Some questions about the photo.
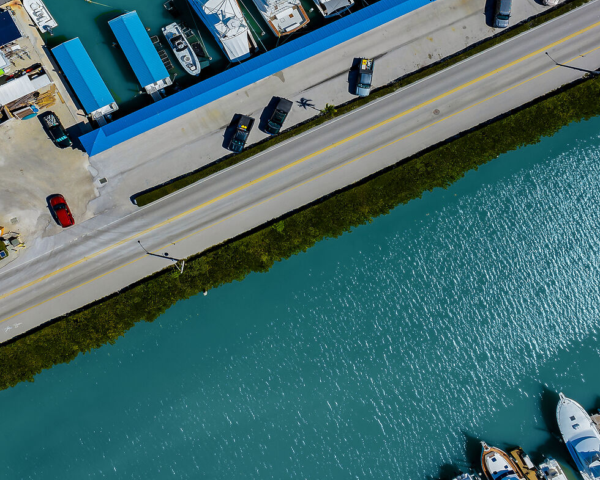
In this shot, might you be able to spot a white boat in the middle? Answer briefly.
No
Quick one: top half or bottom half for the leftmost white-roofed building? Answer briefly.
top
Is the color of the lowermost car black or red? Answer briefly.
red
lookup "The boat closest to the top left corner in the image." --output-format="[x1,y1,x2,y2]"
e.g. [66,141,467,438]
[23,0,60,36]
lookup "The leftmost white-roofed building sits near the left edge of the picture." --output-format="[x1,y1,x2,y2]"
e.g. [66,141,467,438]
[0,76,34,107]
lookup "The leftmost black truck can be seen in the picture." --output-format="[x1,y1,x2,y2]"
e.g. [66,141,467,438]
[44,112,72,148]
